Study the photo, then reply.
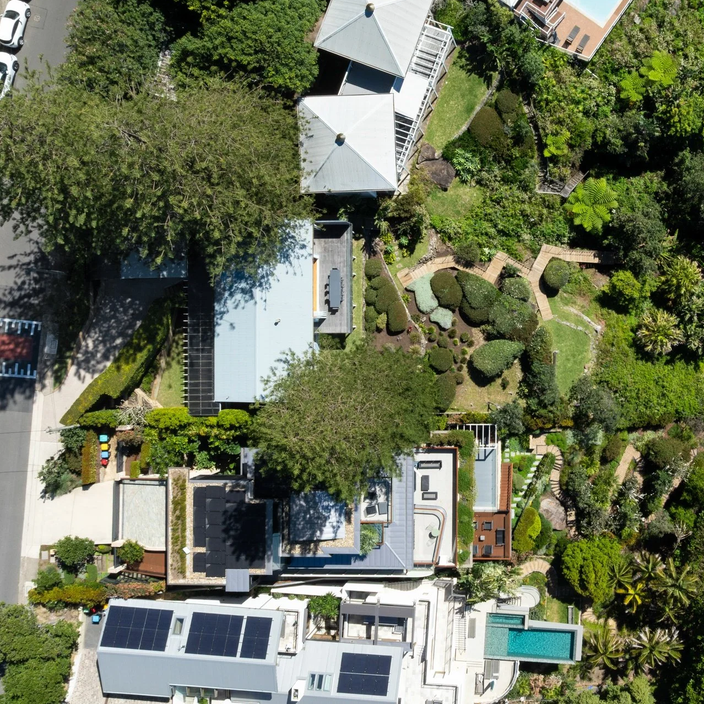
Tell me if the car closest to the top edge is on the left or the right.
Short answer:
left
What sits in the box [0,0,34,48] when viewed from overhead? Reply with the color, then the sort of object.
white car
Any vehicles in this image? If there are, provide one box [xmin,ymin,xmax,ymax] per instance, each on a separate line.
[0,0,34,48]
[0,52,21,91]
